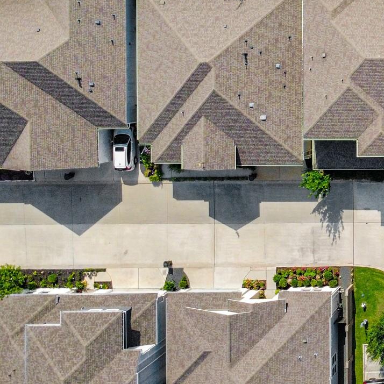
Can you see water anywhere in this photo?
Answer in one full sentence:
No, the picture contains no water.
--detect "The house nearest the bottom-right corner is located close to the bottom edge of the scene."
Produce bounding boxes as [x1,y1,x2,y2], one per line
[166,285,333,384]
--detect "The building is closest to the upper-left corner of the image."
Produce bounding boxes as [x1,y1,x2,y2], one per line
[0,0,137,170]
